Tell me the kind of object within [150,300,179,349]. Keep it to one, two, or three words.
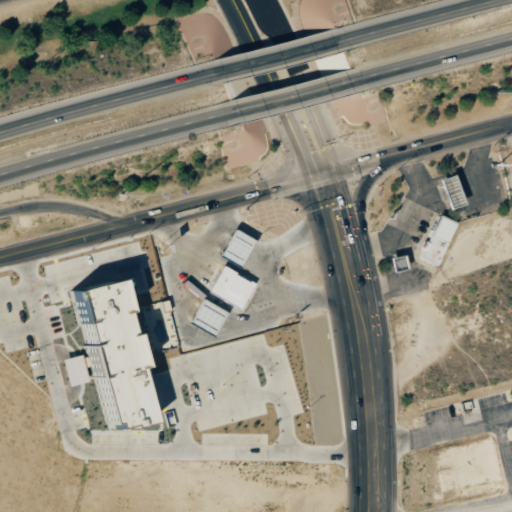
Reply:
building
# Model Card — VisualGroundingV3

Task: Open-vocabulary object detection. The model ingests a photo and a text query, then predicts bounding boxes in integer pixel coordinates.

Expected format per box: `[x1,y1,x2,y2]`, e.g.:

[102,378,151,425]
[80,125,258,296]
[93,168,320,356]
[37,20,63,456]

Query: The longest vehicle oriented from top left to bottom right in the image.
[176,274,205,302]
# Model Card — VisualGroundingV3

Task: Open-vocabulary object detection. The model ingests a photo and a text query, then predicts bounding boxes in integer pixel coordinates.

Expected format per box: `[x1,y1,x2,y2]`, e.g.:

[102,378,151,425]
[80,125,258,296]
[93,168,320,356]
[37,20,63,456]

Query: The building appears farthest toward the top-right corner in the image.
[427,216,459,242]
